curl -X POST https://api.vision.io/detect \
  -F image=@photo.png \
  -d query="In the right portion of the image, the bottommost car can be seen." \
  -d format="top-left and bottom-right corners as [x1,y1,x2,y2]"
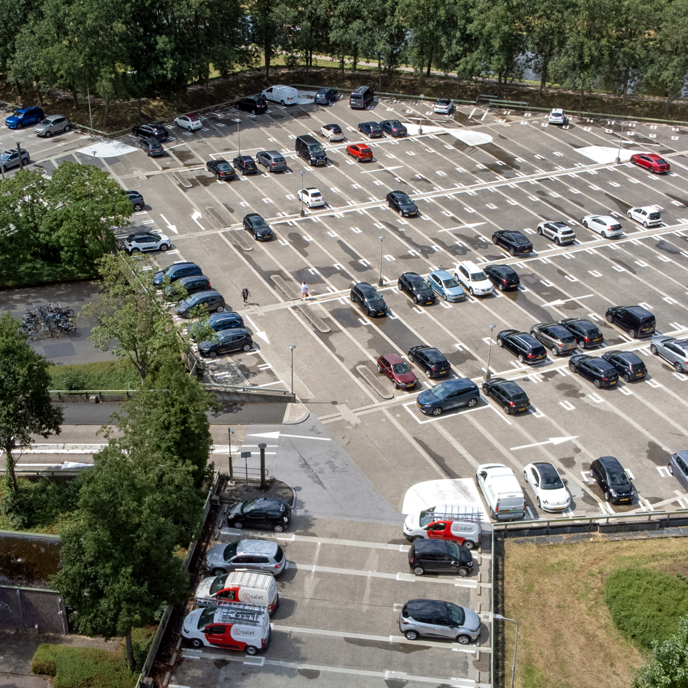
[397,598,478,645]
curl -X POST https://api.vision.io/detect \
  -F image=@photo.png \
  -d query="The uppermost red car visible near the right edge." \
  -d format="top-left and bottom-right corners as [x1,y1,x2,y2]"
[630,152,672,174]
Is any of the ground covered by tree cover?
Yes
